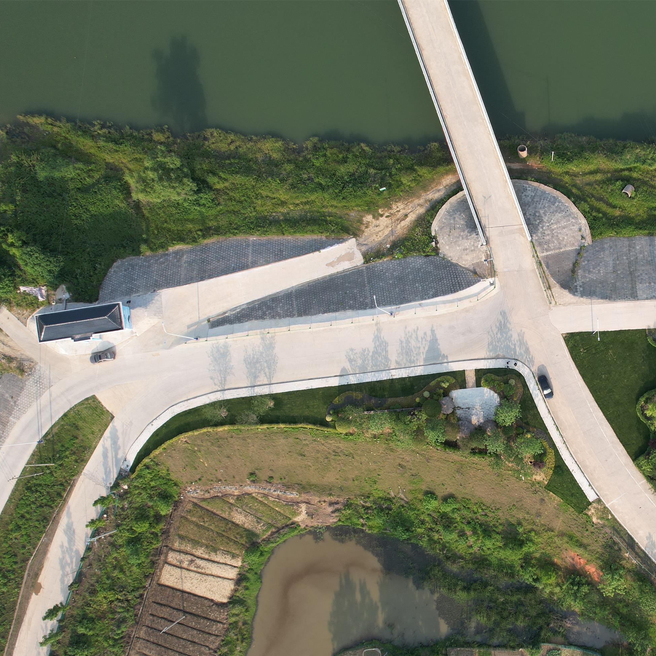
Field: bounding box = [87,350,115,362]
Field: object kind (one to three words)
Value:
vehicle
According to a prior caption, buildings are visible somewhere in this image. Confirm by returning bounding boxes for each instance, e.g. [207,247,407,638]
[35,302,134,344]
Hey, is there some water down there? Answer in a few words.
Yes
